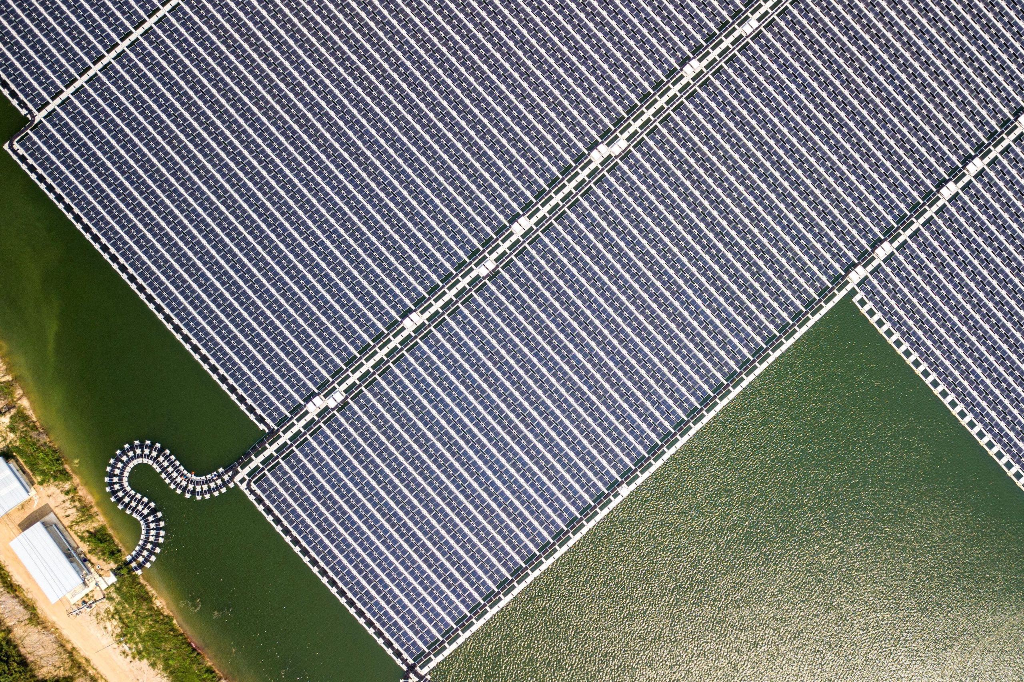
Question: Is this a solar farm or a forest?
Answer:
solar farm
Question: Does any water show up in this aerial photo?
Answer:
Yes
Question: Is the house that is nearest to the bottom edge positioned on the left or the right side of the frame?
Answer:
left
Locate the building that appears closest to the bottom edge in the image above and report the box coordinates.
[9,517,93,605]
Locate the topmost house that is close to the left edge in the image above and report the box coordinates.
[0,453,47,517]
